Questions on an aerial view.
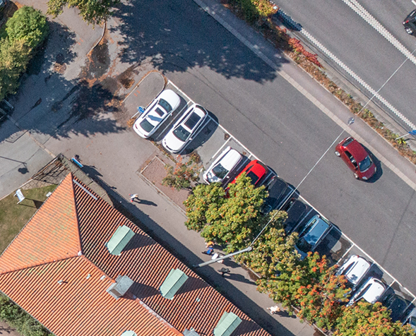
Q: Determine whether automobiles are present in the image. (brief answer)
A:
Yes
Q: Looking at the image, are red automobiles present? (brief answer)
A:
Yes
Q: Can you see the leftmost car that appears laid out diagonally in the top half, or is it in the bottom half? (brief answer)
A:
top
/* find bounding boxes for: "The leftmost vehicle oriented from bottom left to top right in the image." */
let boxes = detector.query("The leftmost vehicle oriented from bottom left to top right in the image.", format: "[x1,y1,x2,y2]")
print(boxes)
[130,87,182,139]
